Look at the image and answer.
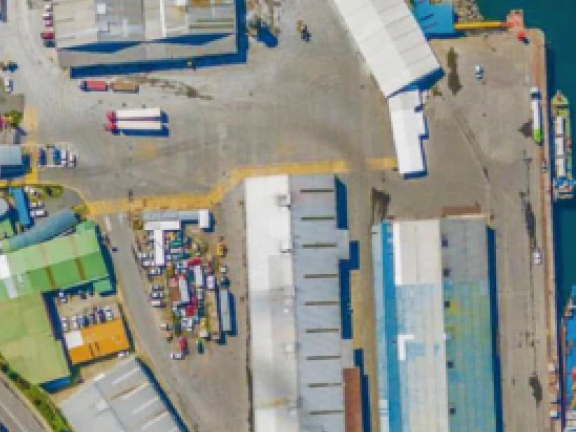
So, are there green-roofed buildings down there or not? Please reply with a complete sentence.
Yes, I can see a green-roofed building in this picture.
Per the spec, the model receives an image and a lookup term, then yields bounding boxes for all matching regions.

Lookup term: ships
[553,285,576,432]
[542,85,576,205]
